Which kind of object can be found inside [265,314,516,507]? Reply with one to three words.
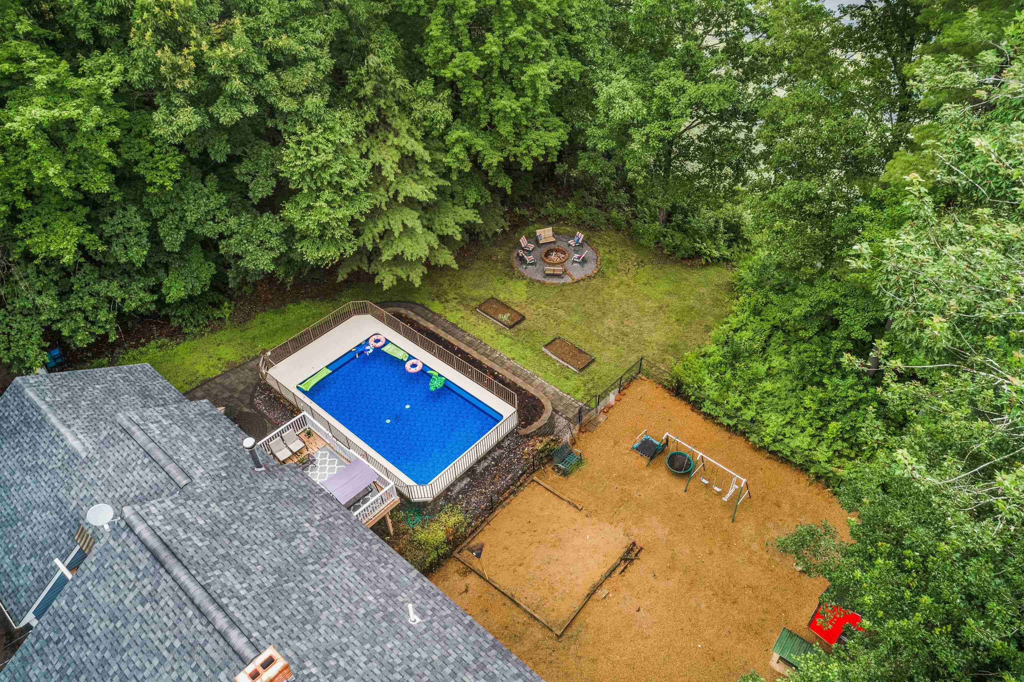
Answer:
swimming pool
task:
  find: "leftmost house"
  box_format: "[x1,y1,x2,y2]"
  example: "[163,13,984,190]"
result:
[0,362,545,682]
